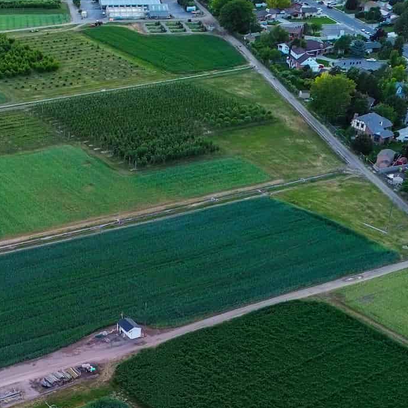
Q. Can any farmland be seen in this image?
Yes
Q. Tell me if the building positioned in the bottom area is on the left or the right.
left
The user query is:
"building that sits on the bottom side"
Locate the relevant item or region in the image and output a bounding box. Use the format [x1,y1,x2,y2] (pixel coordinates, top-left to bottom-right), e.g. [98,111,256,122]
[117,315,144,339]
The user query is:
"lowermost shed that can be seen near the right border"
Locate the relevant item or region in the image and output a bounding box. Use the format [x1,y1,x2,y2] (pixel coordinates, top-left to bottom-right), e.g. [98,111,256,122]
[380,152,408,173]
